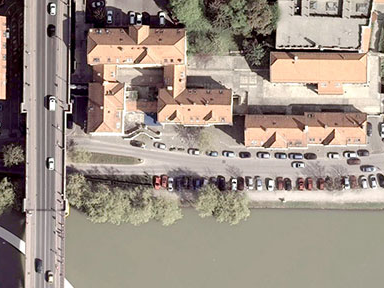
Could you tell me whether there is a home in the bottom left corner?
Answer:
No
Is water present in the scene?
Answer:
Yes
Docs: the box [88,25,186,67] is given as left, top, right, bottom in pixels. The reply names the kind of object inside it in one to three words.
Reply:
house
